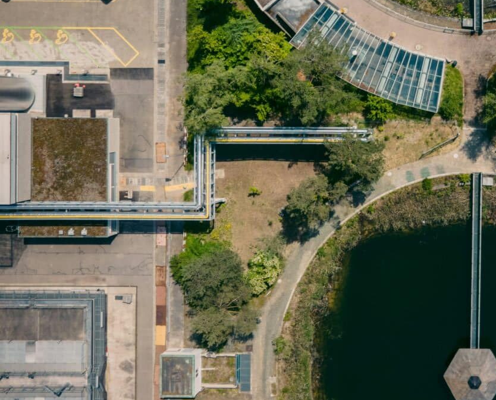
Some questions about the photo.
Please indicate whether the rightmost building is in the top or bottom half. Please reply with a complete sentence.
Seen from above, the rightmost building lies in the bottom half of the view.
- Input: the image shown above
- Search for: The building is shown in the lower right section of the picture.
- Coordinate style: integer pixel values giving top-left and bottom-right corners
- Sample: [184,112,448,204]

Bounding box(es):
[444,346,496,400]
